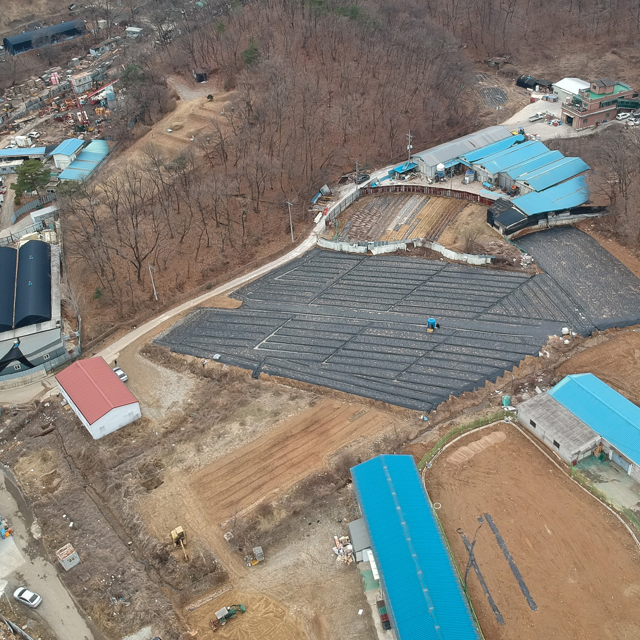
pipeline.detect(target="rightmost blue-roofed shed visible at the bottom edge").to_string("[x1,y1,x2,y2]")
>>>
[350,452,480,640]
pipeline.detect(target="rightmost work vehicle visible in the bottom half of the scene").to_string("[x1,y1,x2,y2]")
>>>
[205,601,250,634]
